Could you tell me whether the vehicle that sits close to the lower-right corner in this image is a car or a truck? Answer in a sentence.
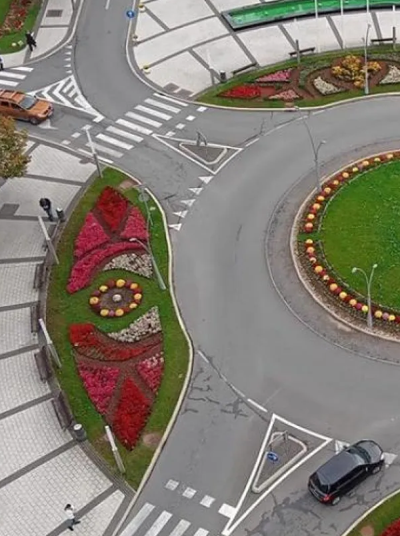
It turns out the vehicle that sits close to the lower-right corner is a car.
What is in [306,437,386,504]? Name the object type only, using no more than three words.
car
